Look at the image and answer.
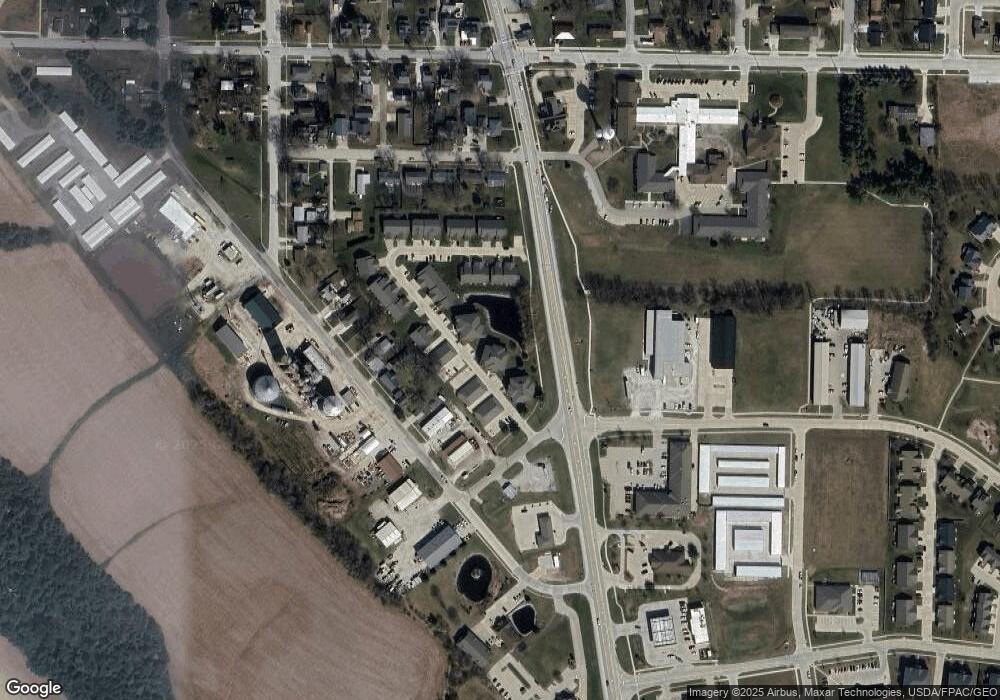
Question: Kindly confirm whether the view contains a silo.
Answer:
Yes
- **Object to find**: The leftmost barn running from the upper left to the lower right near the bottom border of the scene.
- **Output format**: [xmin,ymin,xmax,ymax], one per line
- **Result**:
[453,625,495,666]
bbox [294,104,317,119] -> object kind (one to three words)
house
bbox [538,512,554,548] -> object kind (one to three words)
building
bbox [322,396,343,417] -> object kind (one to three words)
silo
